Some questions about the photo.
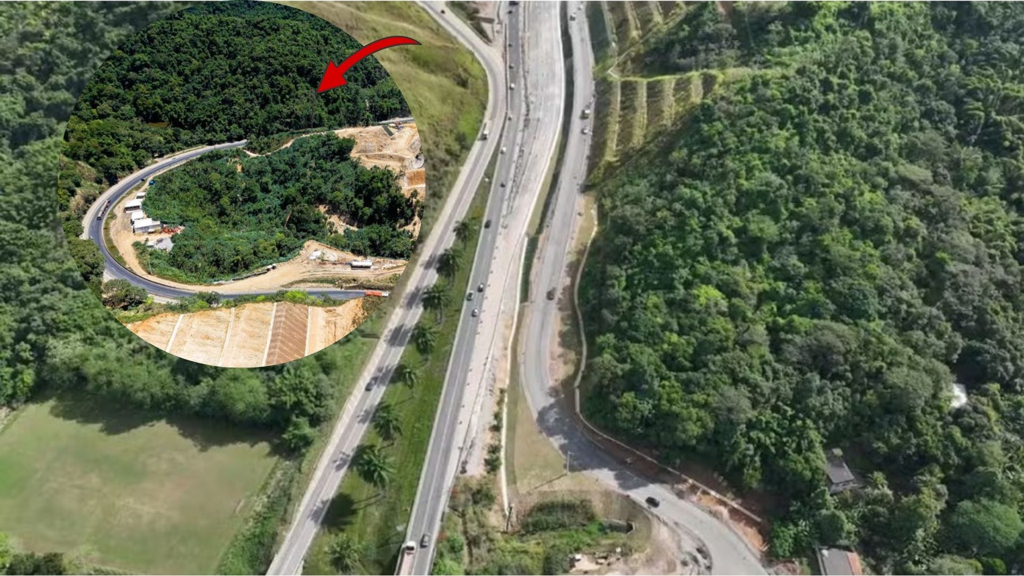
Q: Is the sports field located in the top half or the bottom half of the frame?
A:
bottom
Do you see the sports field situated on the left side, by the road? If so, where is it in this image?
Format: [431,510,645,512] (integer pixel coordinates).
[0,397,282,576]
